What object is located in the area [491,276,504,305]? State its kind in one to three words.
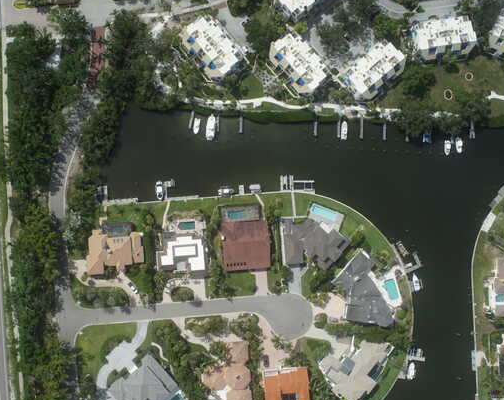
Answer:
swimming pool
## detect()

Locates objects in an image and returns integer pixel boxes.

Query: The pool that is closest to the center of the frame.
[221,204,261,221]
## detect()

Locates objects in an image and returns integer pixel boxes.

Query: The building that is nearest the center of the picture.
[220,220,270,271]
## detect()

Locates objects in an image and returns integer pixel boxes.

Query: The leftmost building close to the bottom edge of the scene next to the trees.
[108,354,178,400]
